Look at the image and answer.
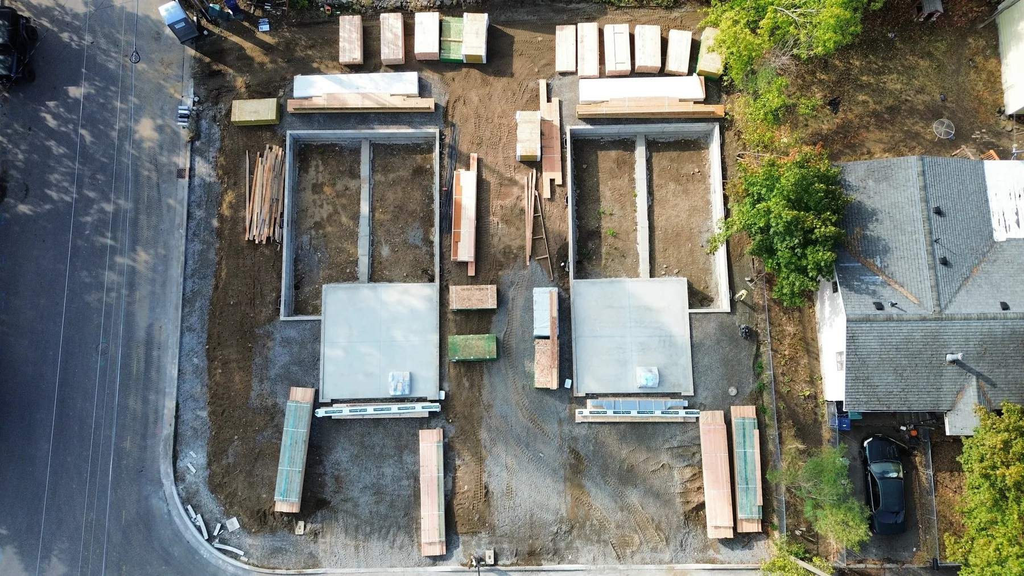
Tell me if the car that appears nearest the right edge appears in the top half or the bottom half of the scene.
bottom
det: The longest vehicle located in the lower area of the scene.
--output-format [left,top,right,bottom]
[860,436,909,535]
